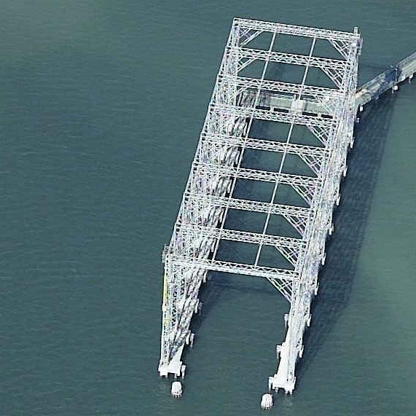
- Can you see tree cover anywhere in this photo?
No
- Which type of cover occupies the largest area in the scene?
water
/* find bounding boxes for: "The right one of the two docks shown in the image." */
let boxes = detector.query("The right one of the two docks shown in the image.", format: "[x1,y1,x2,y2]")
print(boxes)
[264,101,366,395]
